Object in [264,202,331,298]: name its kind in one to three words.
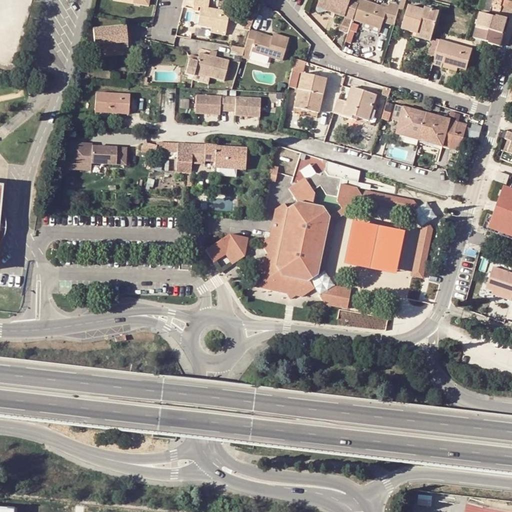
building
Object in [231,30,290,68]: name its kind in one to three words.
house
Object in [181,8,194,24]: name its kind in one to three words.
swimming pool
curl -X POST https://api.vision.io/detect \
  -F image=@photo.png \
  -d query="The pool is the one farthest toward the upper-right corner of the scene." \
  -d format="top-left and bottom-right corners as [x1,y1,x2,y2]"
[384,144,418,164]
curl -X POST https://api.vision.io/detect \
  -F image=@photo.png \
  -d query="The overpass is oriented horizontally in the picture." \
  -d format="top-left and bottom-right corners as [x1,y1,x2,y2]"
[0,358,512,476]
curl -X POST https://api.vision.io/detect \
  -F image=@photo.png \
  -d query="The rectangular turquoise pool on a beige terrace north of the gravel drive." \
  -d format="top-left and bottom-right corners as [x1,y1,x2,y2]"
[149,66,181,82]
